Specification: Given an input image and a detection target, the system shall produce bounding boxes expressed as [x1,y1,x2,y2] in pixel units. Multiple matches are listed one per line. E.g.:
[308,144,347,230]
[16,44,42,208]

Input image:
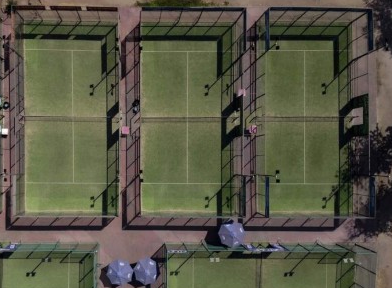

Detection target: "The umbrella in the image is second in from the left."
[132,256,158,282]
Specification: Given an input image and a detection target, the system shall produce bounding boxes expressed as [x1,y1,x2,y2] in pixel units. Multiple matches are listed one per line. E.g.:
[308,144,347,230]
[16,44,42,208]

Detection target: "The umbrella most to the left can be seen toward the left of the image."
[106,257,132,284]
